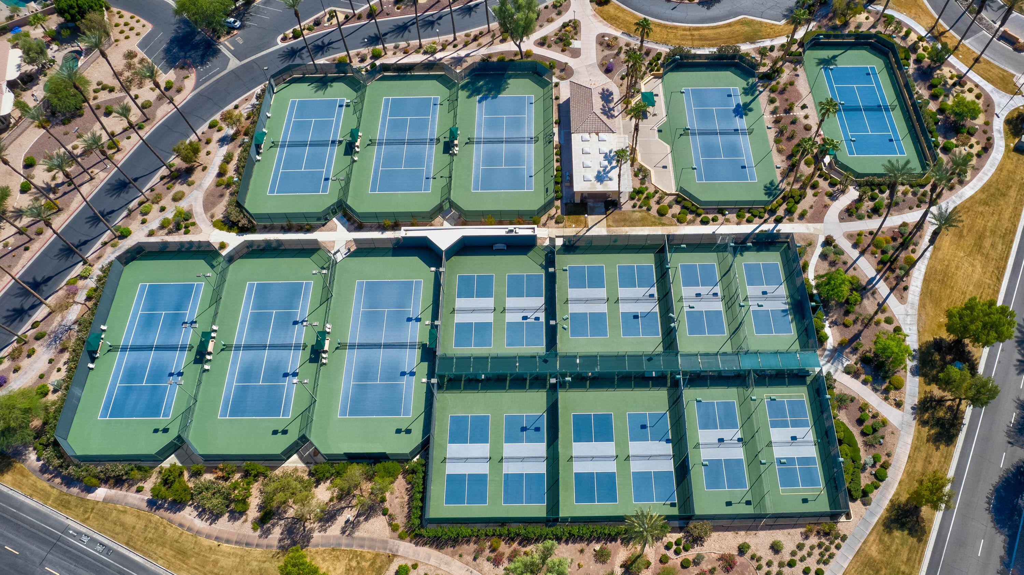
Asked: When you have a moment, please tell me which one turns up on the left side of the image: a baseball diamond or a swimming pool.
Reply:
swimming pool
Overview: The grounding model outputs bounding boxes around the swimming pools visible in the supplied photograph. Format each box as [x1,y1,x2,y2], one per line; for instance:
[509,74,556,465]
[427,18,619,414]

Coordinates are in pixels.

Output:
[1,0,39,7]
[44,50,83,91]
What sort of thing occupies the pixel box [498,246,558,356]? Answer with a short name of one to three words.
sports court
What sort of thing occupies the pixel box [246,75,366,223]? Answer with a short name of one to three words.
tennis court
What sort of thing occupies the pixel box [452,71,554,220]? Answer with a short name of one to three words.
tennis court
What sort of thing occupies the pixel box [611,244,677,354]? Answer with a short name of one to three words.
sports court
